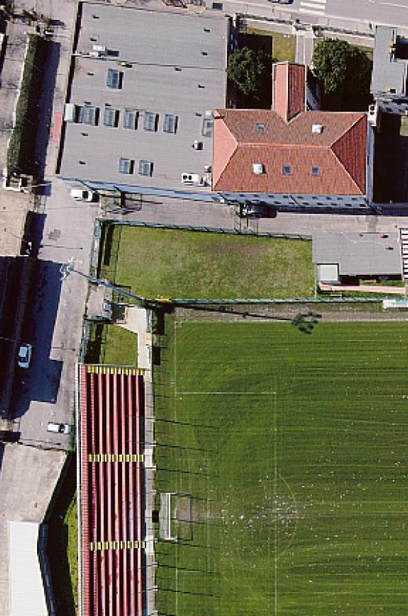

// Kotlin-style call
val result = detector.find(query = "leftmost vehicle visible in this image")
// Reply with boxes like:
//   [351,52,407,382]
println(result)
[17,344,34,369]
